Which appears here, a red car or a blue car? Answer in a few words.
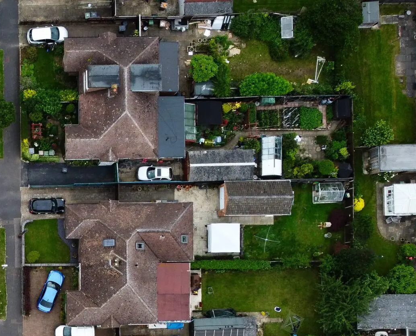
blue car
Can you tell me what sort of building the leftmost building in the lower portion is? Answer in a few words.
residential house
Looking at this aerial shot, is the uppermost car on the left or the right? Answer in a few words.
left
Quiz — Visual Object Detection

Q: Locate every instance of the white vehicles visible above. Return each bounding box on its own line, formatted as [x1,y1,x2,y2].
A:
[55,325,96,336]
[137,164,173,183]
[28,24,67,52]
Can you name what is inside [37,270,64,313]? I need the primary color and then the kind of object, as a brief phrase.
blue car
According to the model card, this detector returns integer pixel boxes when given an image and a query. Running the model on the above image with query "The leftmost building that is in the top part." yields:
[63,32,196,163]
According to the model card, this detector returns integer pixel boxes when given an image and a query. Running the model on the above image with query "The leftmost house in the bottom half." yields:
[65,199,194,328]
